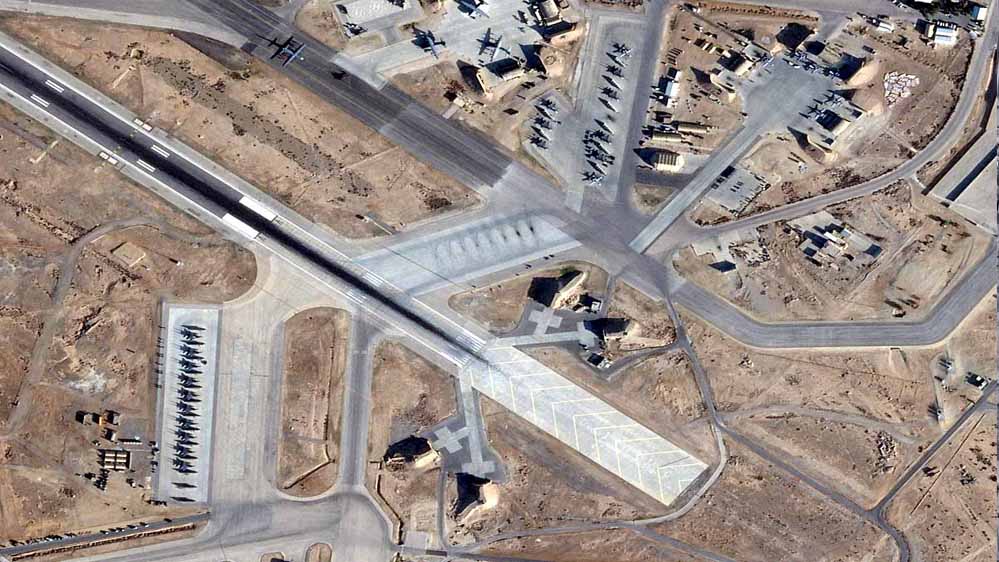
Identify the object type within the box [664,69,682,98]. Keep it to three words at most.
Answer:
building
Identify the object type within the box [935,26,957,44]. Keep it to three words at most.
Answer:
building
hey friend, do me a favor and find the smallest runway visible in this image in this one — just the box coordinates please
[253,217,489,374]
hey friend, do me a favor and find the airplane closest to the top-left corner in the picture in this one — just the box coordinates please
[281,43,302,68]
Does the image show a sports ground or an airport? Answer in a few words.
airport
